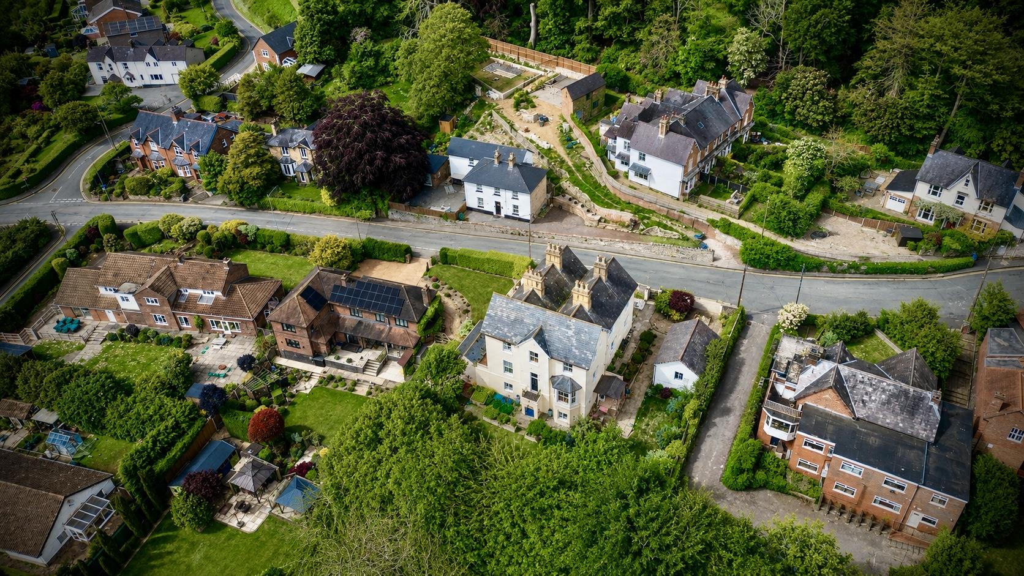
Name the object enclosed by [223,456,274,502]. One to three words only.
gazebo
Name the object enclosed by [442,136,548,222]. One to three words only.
house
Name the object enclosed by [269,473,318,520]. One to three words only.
gazebo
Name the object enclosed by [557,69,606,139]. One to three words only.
barn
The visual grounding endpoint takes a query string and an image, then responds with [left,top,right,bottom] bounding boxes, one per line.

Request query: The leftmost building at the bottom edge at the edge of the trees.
[0,440,126,571]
